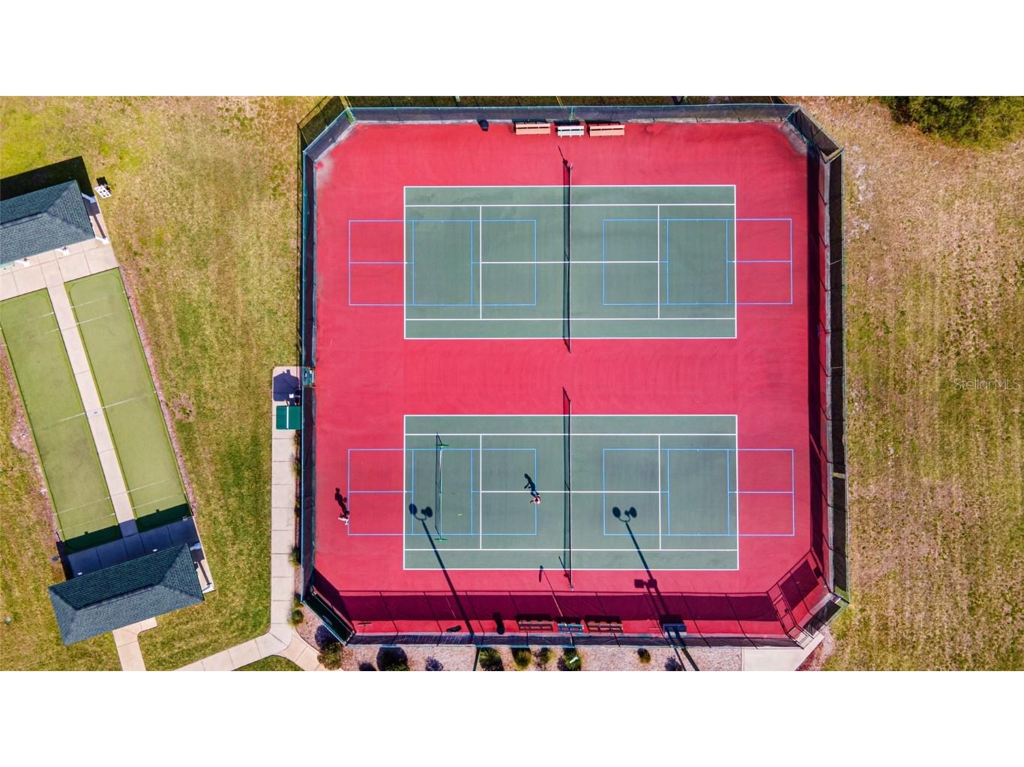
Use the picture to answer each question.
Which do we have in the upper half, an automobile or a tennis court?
tennis court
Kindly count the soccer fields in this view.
zero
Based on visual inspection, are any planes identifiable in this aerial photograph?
No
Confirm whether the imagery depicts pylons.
No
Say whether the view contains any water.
No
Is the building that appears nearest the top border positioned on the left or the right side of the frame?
left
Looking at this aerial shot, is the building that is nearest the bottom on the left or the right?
left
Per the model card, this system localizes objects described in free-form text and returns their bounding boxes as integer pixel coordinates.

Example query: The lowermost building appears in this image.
[48,542,216,645]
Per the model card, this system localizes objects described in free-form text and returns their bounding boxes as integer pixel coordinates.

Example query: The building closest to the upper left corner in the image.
[0,180,110,267]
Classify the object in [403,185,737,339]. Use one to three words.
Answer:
tennis court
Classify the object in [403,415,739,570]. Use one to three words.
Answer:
tennis court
